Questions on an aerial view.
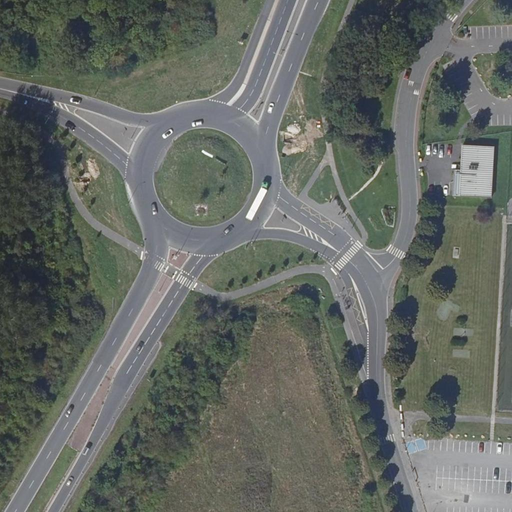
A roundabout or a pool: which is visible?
roundabout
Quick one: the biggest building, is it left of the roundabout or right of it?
to the right of it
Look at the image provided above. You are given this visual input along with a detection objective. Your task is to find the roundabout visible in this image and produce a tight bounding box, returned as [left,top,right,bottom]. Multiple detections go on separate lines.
[132,105,276,249]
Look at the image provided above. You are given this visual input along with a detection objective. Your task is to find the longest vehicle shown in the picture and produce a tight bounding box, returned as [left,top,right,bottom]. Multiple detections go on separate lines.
[248,178,270,218]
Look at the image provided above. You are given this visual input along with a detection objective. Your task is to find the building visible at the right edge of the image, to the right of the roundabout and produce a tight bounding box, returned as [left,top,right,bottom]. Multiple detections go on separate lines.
[454,144,495,196]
